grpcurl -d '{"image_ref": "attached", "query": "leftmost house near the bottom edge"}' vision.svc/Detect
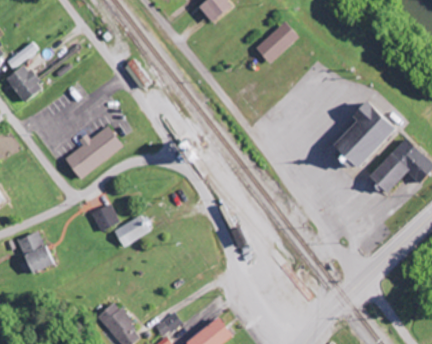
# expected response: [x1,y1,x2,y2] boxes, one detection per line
[98,304,140,344]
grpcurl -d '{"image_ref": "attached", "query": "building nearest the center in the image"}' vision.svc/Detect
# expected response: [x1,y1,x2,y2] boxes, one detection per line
[178,138,210,178]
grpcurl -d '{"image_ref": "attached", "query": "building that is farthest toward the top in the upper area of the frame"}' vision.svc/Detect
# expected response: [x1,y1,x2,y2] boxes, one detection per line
[200,0,234,24]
